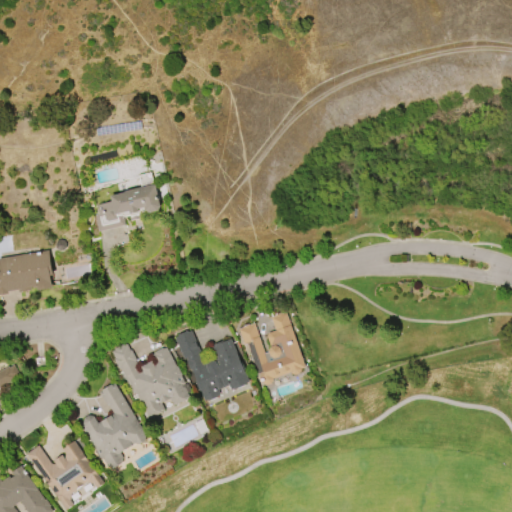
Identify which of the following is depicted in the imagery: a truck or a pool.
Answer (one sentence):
There is a pool in the scene.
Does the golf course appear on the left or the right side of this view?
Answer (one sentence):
The golf course sits on the right side.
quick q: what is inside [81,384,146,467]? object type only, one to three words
house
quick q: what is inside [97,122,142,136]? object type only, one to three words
solar array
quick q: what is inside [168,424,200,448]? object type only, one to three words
swimming pool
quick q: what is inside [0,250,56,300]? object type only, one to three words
house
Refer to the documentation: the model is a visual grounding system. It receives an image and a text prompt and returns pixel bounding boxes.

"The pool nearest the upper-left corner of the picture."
[96,168,120,184]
